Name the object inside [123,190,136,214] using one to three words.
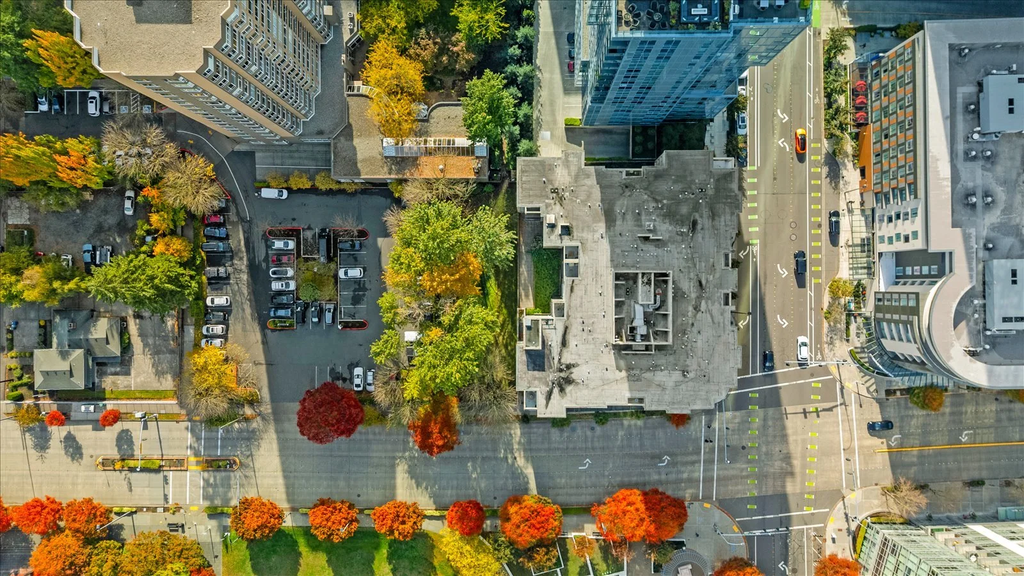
vehicle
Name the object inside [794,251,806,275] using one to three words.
vehicle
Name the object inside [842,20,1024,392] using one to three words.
building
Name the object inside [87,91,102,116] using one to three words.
car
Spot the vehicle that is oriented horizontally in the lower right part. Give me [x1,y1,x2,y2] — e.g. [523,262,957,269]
[866,420,893,432]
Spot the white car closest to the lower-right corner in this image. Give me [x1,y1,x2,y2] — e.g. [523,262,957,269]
[796,337,810,361]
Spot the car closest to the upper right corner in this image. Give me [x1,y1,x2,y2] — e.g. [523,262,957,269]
[794,129,807,153]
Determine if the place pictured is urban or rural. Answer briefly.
urban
